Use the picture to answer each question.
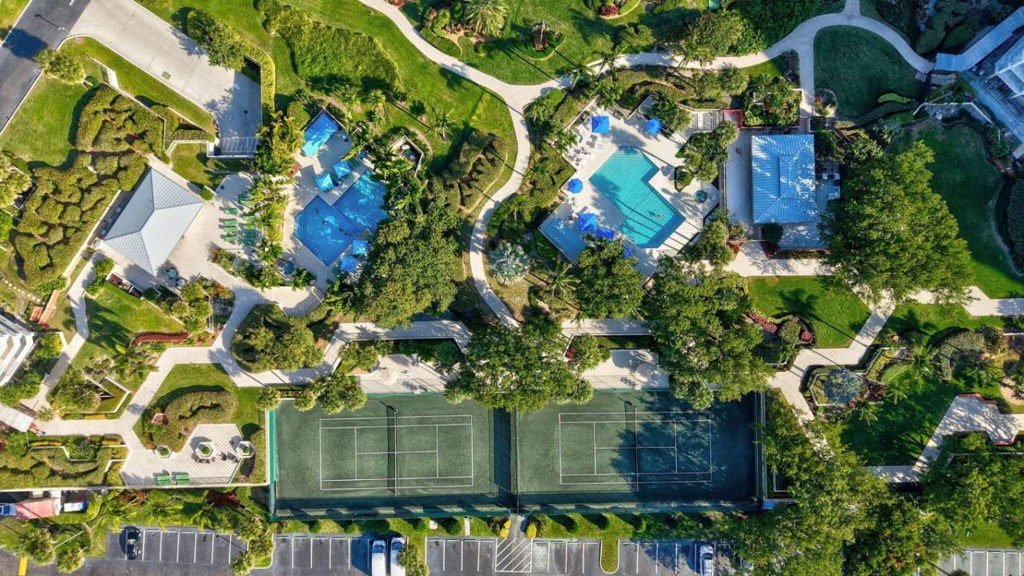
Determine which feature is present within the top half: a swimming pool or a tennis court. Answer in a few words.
swimming pool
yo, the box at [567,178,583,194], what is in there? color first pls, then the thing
blue umbrella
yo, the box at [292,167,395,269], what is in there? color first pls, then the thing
blue swimming pool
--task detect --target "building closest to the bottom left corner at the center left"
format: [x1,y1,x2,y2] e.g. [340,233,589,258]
[0,313,35,385]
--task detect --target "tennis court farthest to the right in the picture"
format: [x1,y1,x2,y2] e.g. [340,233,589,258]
[517,386,763,514]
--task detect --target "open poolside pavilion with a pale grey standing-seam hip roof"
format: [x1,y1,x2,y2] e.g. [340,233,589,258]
[104,168,208,276]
